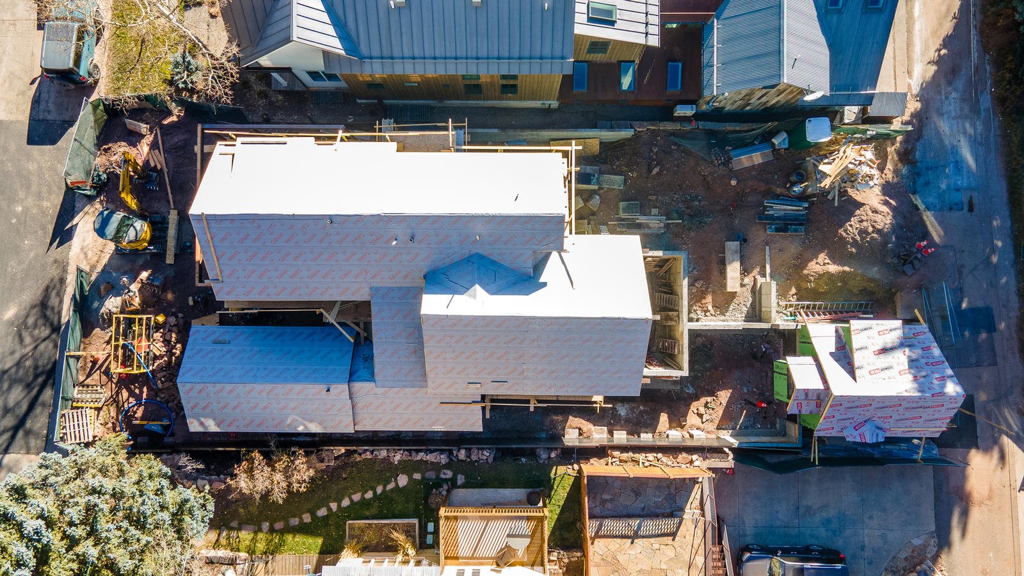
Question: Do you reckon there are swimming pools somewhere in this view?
No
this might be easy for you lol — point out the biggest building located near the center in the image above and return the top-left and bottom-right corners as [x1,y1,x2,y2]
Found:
[177,132,653,432]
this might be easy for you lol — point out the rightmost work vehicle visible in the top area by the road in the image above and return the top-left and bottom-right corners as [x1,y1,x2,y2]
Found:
[94,152,180,259]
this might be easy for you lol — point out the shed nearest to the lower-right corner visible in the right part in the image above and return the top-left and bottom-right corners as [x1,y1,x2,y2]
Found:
[773,307,964,443]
